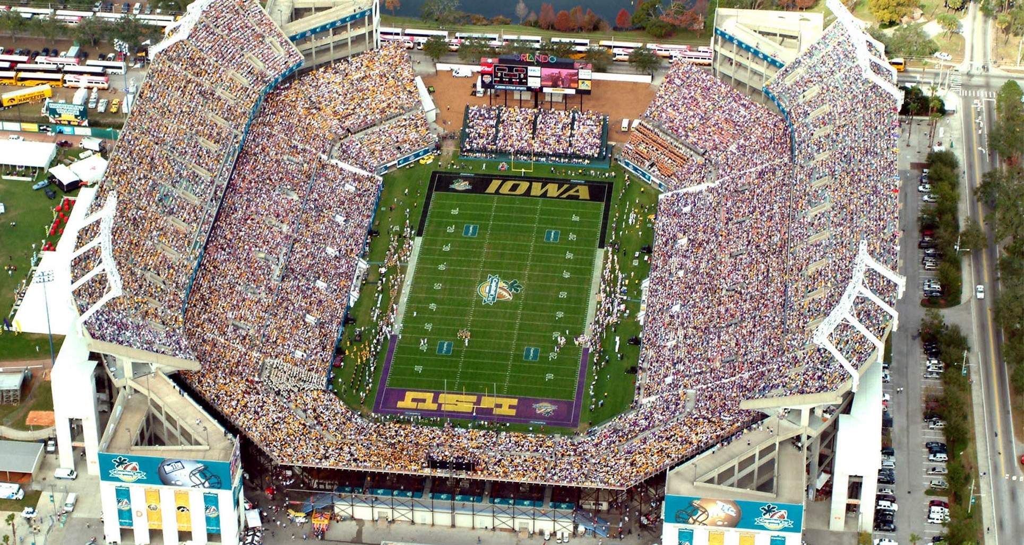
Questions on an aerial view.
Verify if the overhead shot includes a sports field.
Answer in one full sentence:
Yes, looking at the shot, I can spot a sports field.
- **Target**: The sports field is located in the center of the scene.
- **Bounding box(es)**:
[388,192,604,389]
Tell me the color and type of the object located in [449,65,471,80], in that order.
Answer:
white vehicle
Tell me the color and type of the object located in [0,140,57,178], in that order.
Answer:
white tent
